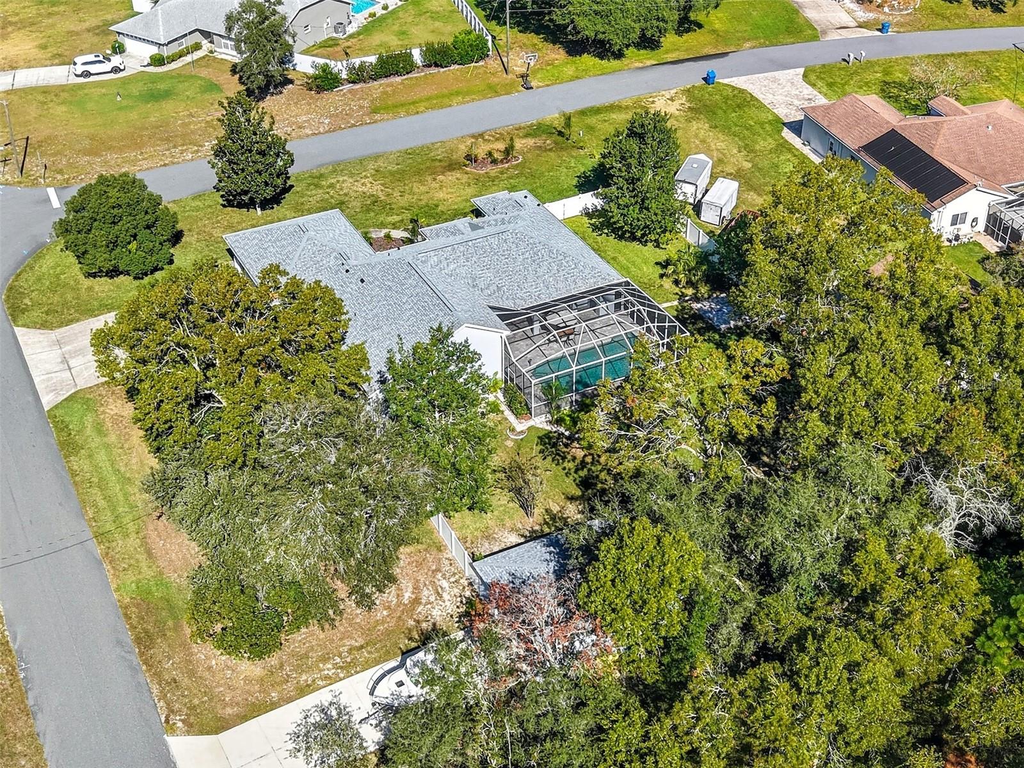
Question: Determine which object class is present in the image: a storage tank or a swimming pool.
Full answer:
There is a swimming pool in the scene.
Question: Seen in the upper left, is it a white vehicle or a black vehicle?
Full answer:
The one visible in the upper left is a white vehicle.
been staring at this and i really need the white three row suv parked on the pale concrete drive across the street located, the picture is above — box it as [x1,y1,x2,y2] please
[67,50,125,78]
